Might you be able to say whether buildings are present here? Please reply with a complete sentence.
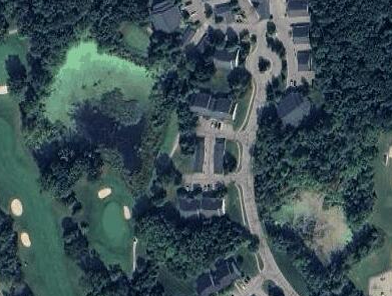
Yes, the image includes a building.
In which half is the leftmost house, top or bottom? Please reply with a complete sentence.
The top half of the photo is where the leftmost house is.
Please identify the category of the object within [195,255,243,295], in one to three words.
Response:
house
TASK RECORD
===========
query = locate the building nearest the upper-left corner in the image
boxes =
[151,0,182,32]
